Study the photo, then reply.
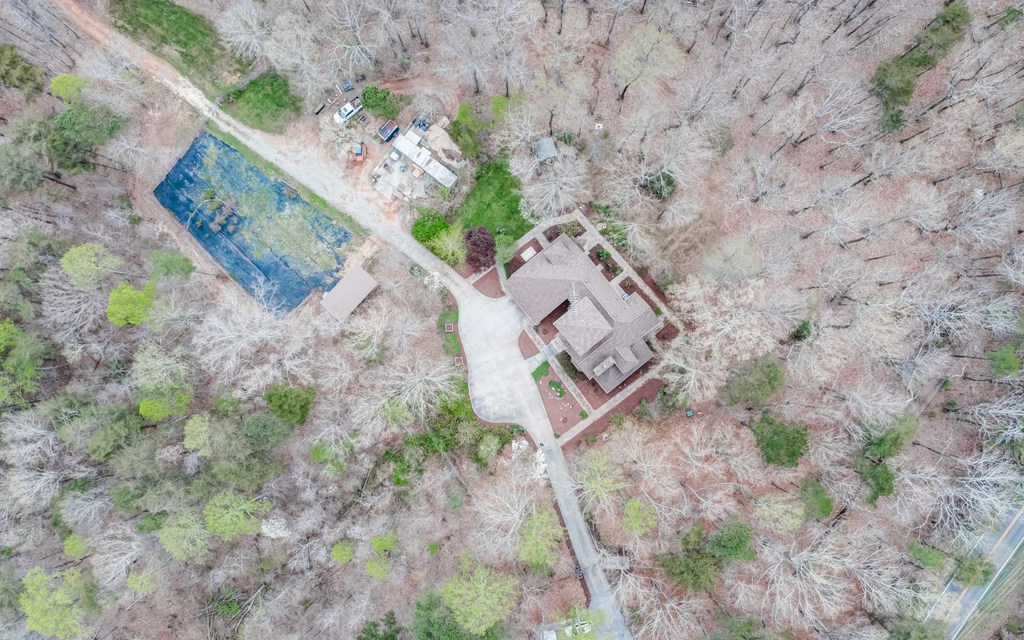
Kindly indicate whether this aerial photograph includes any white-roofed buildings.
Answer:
Yes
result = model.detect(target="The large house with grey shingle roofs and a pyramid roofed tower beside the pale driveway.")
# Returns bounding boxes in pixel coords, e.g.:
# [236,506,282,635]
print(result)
[502,232,661,395]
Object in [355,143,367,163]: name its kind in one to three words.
vehicle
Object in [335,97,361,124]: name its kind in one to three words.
truck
